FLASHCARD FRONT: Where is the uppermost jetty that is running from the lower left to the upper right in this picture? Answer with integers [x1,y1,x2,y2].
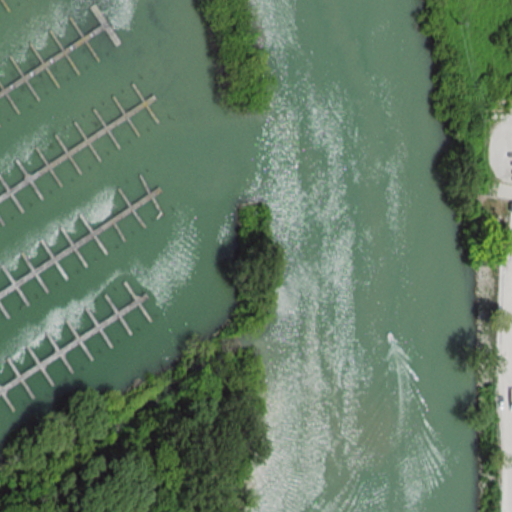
[0,6,121,114]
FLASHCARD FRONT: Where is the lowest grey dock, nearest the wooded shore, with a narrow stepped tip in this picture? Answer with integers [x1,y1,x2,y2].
[0,282,152,412]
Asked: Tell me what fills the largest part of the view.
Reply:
water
